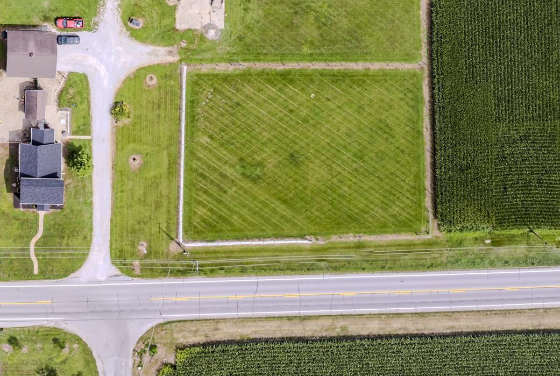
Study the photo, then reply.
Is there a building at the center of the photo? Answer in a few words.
No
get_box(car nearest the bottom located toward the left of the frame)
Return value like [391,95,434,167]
[58,34,81,46]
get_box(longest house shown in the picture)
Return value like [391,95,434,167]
[20,121,65,212]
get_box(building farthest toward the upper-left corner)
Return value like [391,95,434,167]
[6,30,57,78]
